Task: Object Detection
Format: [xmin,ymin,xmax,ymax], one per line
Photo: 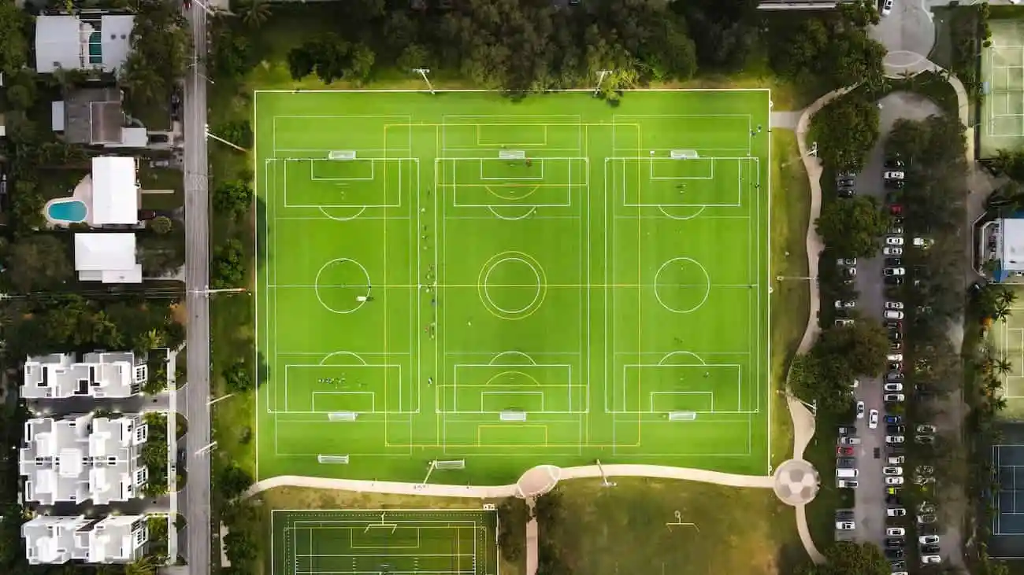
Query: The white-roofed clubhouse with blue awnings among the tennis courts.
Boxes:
[987,210,1024,283]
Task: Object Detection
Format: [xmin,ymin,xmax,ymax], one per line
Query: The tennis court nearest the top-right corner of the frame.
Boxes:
[984,19,1024,157]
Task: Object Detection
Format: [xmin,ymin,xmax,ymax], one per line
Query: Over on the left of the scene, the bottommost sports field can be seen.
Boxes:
[271,510,498,575]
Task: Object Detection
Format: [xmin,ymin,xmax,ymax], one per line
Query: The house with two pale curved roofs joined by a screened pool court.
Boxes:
[34,12,138,81]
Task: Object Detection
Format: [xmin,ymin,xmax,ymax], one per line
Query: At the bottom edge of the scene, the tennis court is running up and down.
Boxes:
[986,424,1024,558]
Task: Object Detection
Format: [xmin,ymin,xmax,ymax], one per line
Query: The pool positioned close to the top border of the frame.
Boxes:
[80,17,102,64]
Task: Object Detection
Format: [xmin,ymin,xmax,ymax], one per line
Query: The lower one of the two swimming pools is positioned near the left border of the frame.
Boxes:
[44,173,93,229]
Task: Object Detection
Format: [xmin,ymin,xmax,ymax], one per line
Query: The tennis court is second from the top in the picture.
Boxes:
[990,284,1024,422]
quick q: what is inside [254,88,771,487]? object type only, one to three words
sports field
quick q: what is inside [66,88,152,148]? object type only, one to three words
house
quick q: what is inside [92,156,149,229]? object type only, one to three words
house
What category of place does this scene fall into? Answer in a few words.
sports ground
